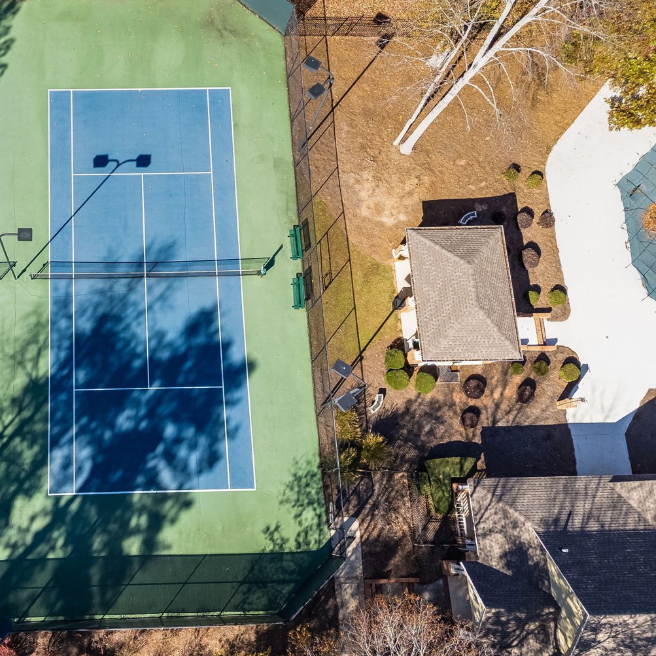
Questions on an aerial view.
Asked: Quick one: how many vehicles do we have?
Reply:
0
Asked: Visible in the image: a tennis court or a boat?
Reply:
tennis court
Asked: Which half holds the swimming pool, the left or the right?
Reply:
right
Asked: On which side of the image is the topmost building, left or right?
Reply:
right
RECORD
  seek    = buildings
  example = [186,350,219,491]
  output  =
[390,224,526,369]
[419,473,656,656]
